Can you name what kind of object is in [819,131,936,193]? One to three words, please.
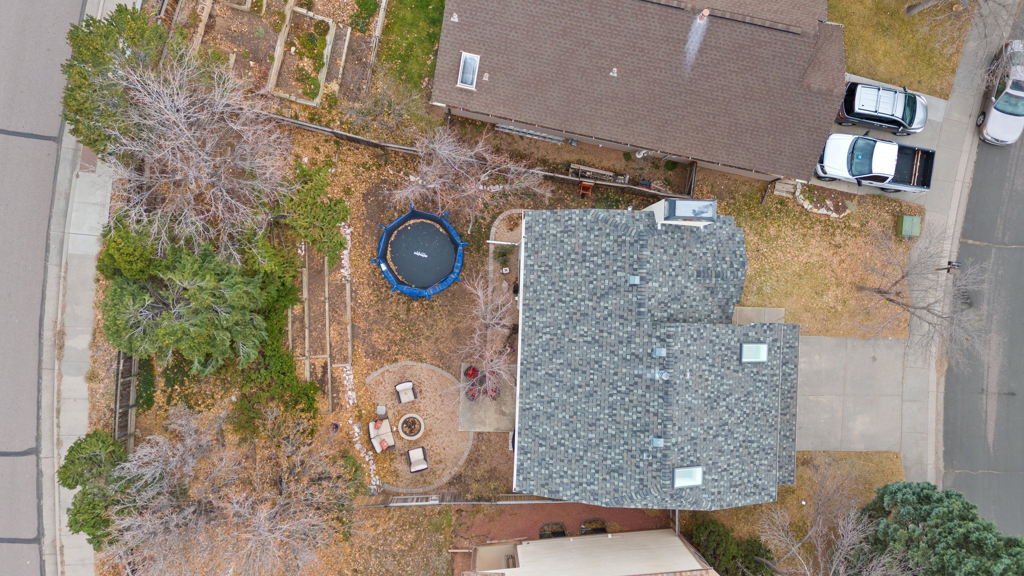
truck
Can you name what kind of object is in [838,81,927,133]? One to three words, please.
car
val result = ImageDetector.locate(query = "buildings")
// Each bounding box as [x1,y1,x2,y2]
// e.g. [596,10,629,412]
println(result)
[430,0,848,185]
[463,530,713,576]
[510,198,802,516]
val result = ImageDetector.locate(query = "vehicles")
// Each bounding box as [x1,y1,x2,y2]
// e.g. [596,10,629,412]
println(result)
[838,81,927,133]
[819,131,936,193]
[980,46,1024,149]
